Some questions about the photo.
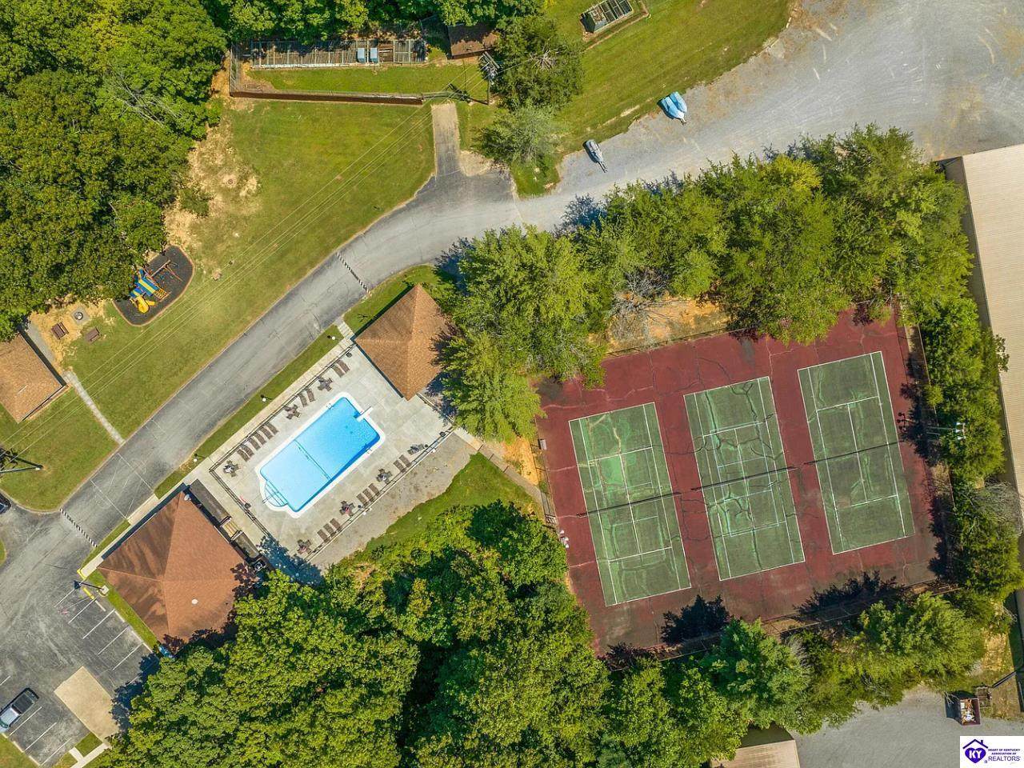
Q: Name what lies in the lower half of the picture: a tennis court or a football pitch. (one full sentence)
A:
There is a tennis court in the lower half of the picture.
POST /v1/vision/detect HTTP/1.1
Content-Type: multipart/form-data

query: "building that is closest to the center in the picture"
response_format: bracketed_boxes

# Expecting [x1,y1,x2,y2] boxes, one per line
[355,284,470,402]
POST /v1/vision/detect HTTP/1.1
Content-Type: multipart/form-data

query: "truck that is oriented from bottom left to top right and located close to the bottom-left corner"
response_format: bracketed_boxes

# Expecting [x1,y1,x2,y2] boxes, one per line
[0,689,38,733]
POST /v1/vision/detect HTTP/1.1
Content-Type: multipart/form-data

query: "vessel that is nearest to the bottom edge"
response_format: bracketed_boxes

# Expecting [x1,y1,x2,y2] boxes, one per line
[584,140,601,164]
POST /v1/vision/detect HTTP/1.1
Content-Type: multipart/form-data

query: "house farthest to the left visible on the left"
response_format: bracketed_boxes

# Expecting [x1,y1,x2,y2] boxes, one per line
[0,323,75,422]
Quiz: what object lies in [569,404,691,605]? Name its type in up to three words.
tennis court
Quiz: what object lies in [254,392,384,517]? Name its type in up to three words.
swimming pool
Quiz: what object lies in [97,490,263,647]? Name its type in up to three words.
building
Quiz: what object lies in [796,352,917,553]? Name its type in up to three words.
tennis court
